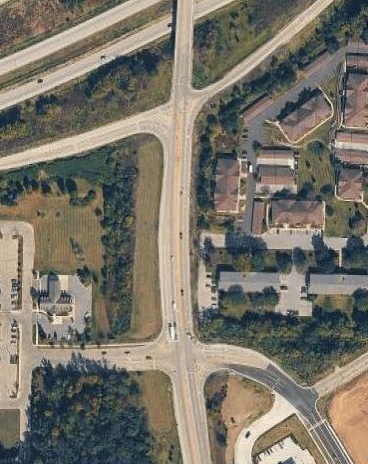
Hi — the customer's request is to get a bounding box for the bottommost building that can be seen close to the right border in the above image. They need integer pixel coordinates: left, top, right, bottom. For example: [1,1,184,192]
[308,274,368,295]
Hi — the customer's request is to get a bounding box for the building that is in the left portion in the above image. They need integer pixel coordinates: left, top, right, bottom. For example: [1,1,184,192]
[38,296,72,318]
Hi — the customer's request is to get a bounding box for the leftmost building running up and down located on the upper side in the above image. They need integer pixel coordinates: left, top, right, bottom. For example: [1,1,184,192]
[215,154,241,212]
